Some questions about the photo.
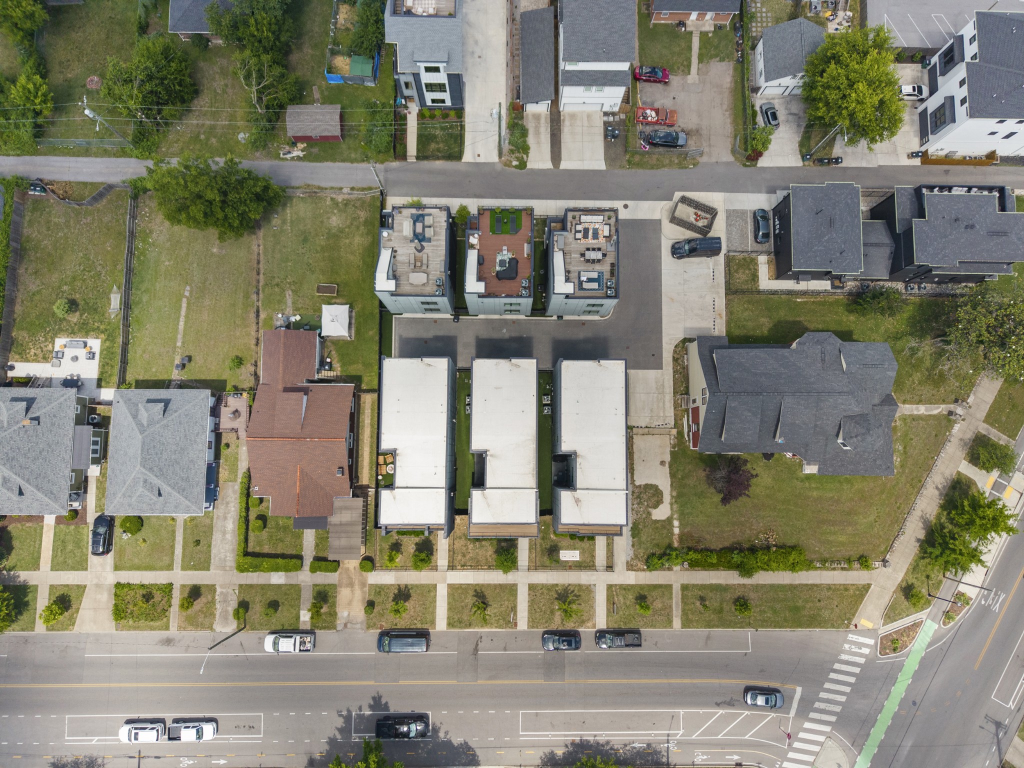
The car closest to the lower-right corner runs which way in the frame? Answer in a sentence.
Seen from above, the car closest to the lower-right corner lies horizontally.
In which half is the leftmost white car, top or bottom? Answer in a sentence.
The leftmost white car sits in the bottom half of the picture.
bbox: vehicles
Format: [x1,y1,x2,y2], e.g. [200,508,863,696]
[756,97,785,135]
[264,631,318,654]
[119,720,166,744]
[634,106,678,127]
[90,514,116,558]
[376,715,432,740]
[595,628,643,650]
[742,687,784,710]
[633,65,670,86]
[168,718,220,742]
[541,630,582,651]
[751,209,771,245]
[671,236,723,259]
[648,129,687,149]
[378,631,431,653]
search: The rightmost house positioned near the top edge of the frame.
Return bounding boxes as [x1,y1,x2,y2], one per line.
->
[921,10,1024,150]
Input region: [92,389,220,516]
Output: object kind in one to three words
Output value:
house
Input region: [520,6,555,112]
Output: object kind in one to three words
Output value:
building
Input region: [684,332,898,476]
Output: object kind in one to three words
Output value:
house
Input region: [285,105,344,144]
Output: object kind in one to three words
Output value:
shed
